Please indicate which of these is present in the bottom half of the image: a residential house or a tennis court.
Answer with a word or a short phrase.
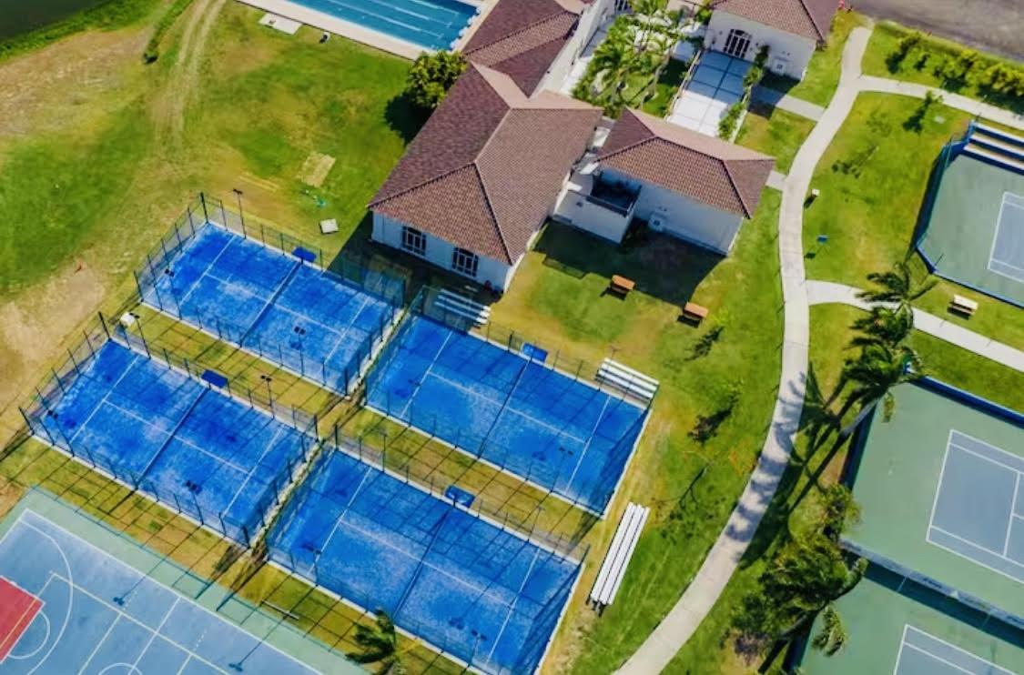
tennis court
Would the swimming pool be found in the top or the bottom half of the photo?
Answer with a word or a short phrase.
top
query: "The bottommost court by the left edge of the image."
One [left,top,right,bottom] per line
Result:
[0,492,365,675]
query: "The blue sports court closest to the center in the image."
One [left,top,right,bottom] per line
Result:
[359,284,661,522]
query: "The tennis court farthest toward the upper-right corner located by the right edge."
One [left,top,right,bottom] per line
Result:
[917,109,1024,307]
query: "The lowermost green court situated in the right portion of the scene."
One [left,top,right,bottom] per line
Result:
[797,537,1024,675]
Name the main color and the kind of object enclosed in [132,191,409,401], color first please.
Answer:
blue sports court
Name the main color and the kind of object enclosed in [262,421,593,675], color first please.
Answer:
blue sports court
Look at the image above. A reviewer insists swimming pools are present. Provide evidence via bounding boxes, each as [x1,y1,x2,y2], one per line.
[245,0,501,66]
